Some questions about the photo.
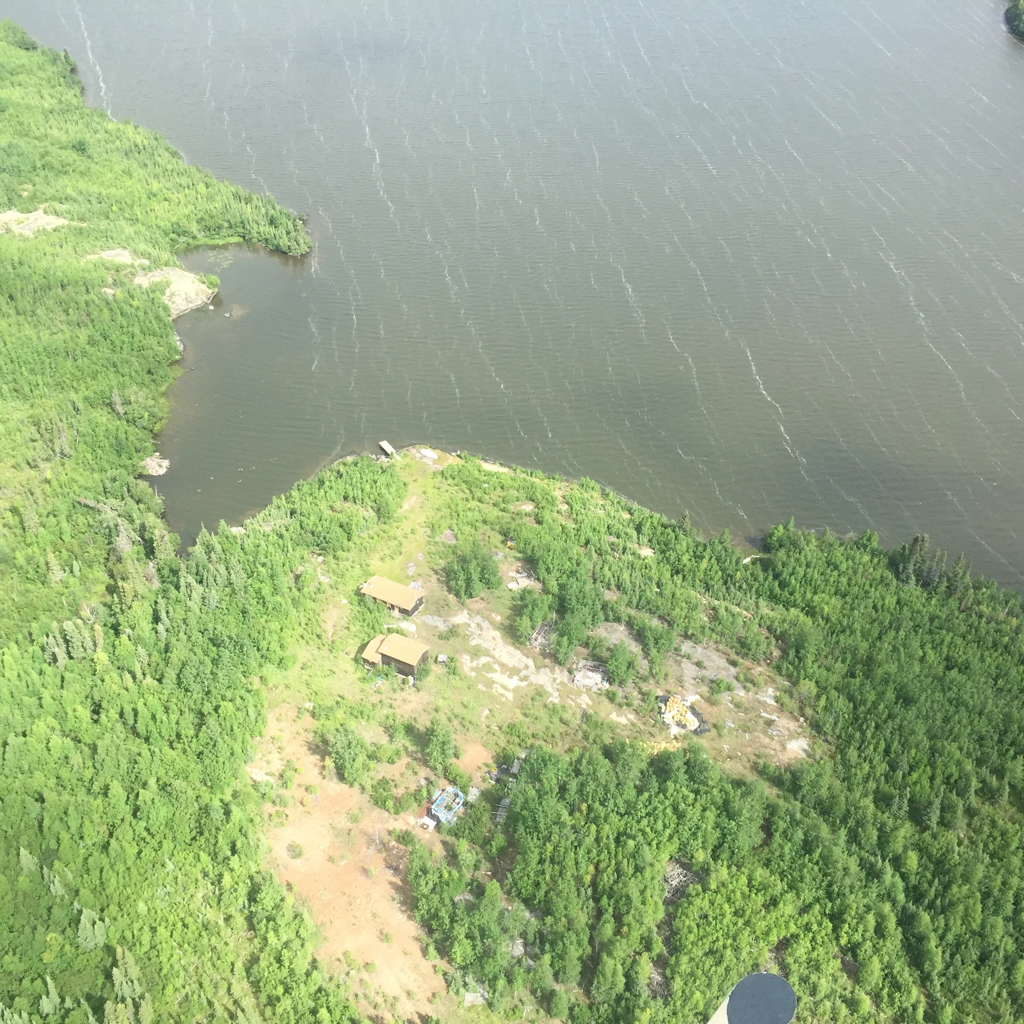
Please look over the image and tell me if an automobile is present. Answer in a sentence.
No, there's no automobile here.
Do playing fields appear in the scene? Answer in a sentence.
No, there appears to be no playing field in this shot.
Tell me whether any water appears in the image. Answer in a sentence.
Yes, there is water in the image.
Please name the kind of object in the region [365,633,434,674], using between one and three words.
building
